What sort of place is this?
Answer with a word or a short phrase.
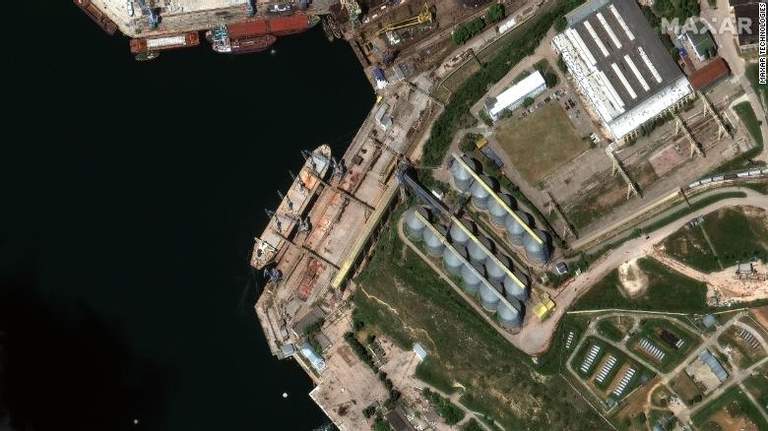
port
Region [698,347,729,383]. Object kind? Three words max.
building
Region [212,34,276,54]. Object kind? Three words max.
ship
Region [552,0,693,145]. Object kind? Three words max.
building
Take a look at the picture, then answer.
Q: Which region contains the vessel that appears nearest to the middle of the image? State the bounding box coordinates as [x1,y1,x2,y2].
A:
[250,144,332,268]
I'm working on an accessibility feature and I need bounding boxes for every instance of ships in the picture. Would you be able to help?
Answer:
[207,13,320,43]
[76,0,117,36]
[250,144,332,268]
[130,31,200,54]
[212,34,276,54]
